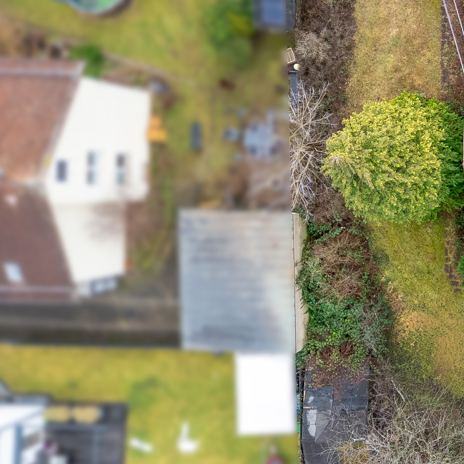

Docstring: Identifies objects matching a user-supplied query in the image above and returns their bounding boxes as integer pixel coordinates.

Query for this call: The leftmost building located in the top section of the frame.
[0,54,147,291]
